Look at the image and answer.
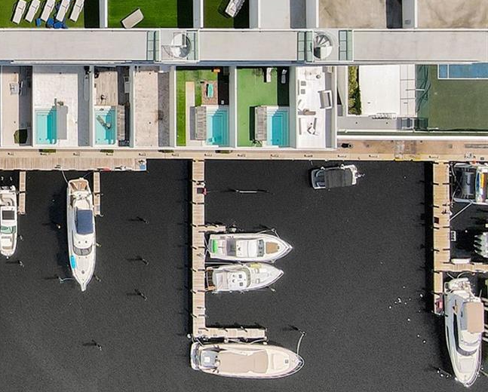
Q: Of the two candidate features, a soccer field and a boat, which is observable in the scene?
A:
boat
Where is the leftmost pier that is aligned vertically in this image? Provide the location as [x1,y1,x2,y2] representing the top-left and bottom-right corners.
[15,172,29,215]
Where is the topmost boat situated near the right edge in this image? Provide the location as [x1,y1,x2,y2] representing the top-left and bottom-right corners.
[449,167,488,200]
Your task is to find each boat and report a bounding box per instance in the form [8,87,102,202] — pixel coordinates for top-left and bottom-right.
[205,232,294,261]
[309,162,365,188]
[186,338,305,377]
[0,177,18,258]
[437,274,488,387]
[61,177,95,295]
[469,233,488,257]
[204,259,285,291]
[449,167,488,200]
